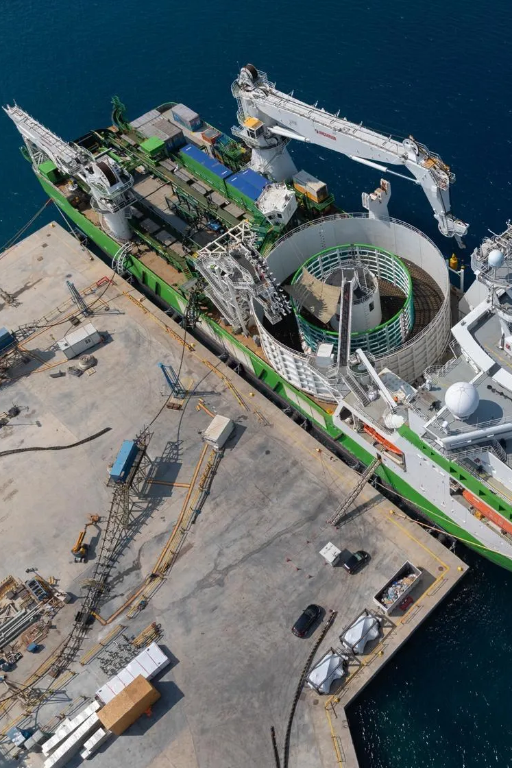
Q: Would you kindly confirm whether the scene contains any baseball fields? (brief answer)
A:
No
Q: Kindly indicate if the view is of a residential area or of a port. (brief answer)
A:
port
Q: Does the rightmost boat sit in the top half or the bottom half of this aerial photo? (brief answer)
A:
bottom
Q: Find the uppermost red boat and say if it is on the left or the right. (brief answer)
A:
right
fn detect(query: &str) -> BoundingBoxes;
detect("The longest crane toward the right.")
[214,61,465,253]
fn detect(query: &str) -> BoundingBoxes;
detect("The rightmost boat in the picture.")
[464,489,512,540]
